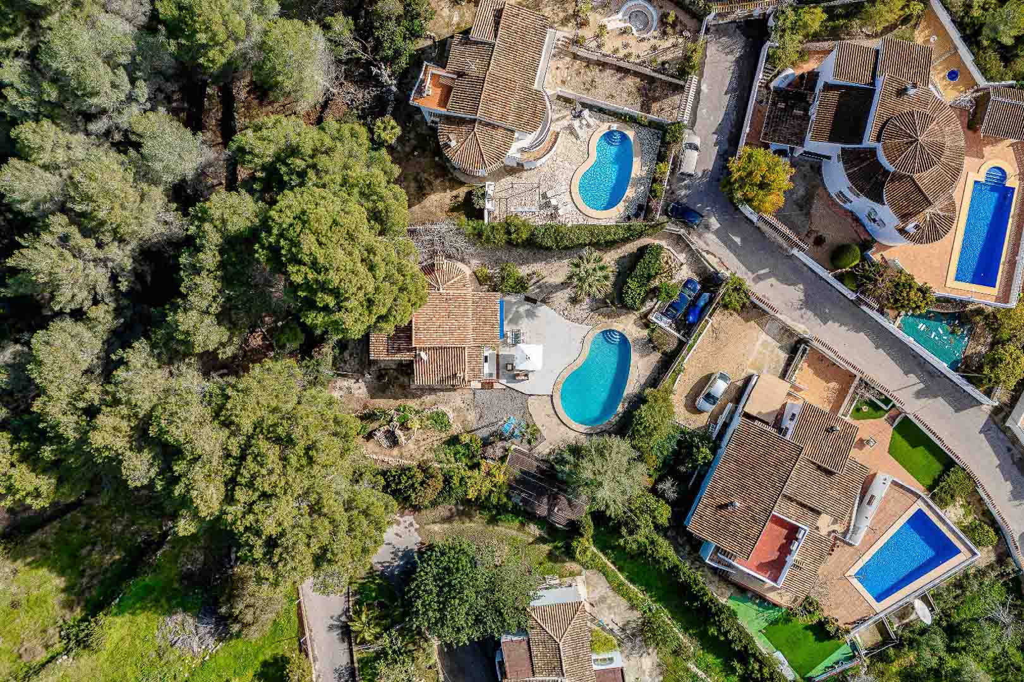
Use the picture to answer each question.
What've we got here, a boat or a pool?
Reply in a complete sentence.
There is a pool in the scene.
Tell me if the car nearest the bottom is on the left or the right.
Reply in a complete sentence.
It is on the right.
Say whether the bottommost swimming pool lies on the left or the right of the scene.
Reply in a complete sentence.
It is on the right.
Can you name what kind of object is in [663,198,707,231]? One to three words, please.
car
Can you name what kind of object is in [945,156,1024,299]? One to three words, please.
swimming pool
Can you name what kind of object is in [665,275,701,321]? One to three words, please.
car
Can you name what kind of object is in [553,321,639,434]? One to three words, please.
swimming pool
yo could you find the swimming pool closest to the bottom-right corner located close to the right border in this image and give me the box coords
[844,498,973,614]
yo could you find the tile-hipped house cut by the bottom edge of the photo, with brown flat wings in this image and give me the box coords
[501,572,625,682]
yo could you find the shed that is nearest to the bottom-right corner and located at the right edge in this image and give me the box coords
[996,396,1024,453]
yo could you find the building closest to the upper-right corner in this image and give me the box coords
[967,84,1024,148]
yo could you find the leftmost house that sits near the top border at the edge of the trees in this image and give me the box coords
[411,0,561,179]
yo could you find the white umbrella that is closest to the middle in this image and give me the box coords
[516,343,543,370]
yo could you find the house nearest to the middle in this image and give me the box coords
[369,247,504,388]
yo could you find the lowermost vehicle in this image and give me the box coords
[695,369,731,414]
